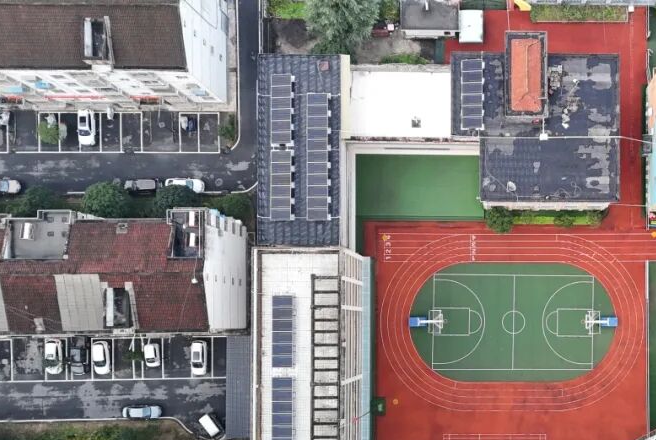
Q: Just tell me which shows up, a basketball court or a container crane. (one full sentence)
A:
Of the two, only a basketball court appears.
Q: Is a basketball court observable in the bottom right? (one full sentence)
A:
Yes, a basketball court is visible in the bottom right.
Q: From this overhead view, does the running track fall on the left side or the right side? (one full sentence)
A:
The running track is on the right side of the image.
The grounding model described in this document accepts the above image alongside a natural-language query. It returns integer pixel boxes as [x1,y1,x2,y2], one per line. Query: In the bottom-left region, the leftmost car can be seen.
[43,338,64,376]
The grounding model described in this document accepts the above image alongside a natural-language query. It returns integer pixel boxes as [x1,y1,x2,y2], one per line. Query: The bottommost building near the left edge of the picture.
[0,204,247,334]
